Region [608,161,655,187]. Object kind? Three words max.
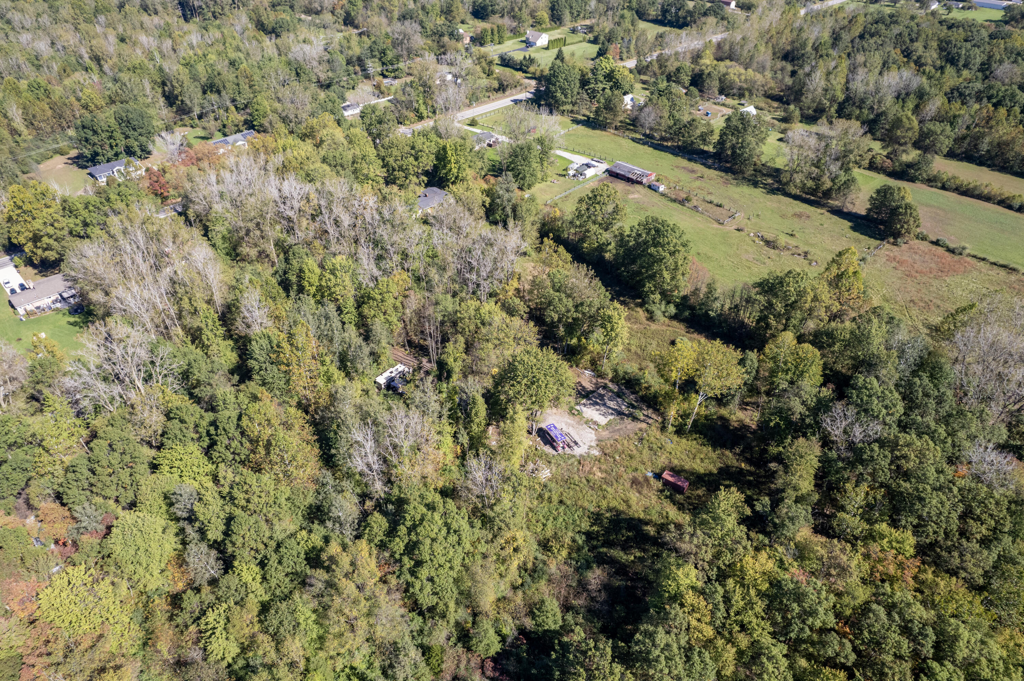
barn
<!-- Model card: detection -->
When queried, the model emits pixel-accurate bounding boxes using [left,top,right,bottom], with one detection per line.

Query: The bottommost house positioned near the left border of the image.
[9,273,77,314]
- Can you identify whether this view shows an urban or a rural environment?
rural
